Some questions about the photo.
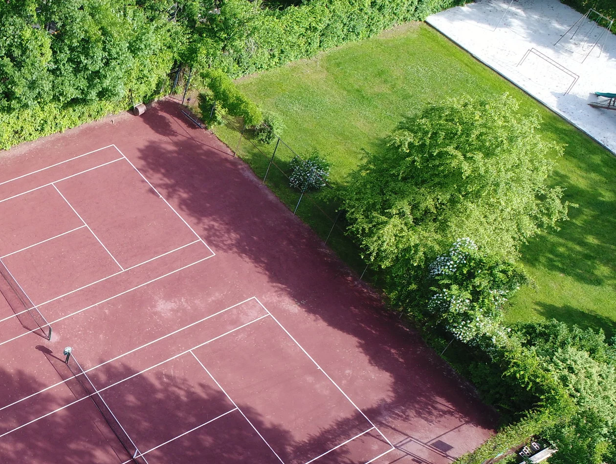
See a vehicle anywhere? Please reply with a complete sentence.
No, the photo shows no vehicle.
